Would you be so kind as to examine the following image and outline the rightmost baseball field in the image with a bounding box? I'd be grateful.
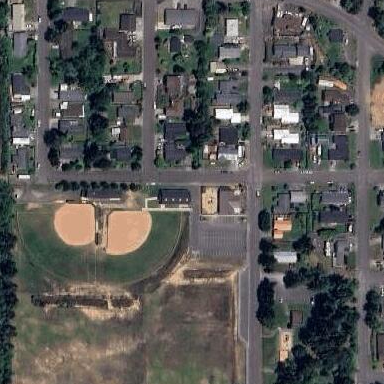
[88,209,187,286]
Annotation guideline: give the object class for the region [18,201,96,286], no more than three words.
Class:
baseball field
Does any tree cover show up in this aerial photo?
Yes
